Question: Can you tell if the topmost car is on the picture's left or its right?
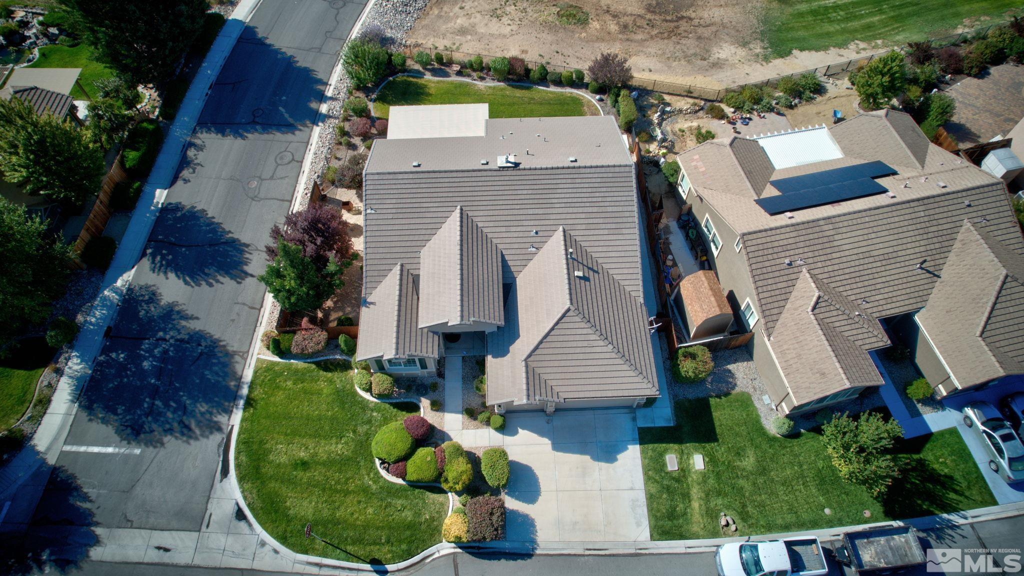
right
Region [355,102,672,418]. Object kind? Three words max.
house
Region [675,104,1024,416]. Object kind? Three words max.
house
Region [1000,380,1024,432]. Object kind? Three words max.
car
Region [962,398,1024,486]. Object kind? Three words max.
car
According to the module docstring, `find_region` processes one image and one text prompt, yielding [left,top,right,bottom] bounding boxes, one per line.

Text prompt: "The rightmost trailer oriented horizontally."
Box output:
[821,524,926,576]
